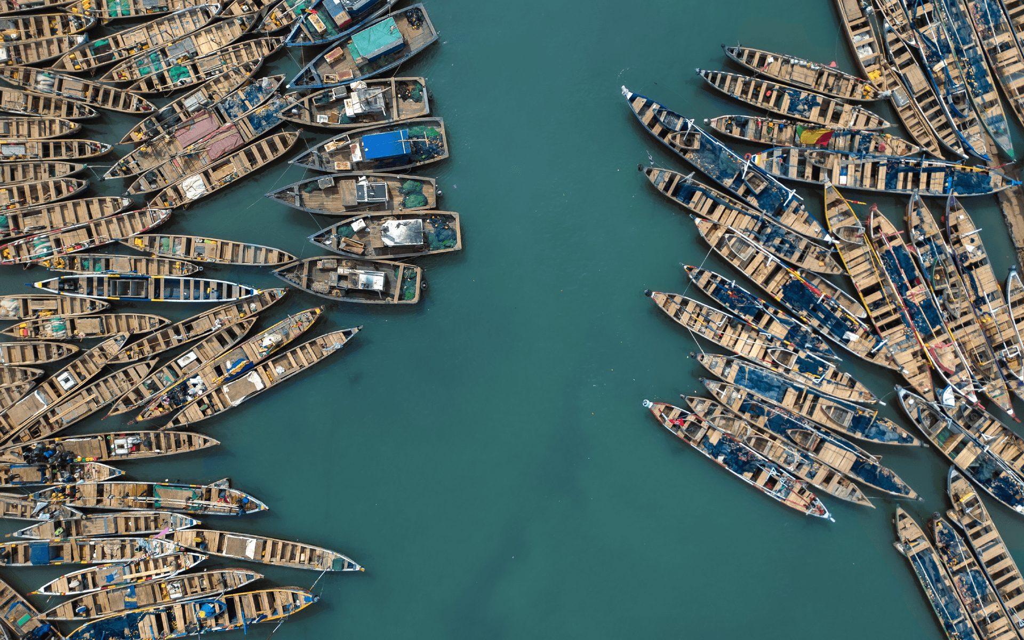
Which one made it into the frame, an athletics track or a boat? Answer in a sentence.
I can see a boat in this picture.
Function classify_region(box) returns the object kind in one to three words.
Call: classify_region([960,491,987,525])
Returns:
boat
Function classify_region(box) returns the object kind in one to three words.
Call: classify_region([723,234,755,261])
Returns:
boat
